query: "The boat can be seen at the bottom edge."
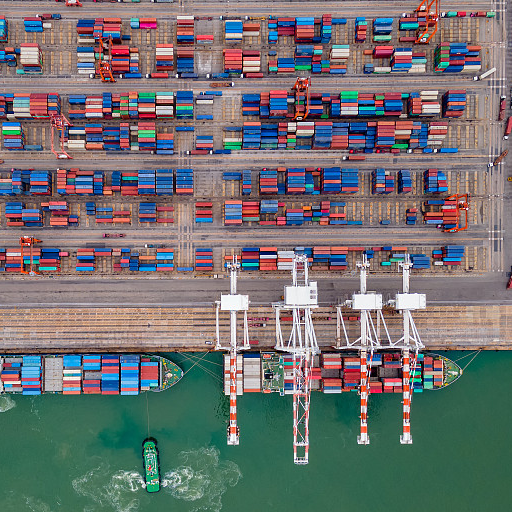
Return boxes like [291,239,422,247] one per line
[141,437,161,493]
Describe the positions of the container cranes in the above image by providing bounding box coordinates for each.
[20,237,42,276]
[51,116,71,159]
[98,35,116,83]
[270,249,321,466]
[331,249,382,446]
[439,194,467,234]
[288,78,309,123]
[410,0,438,45]
[371,249,428,446]
[209,249,250,447]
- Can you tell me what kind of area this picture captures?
port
